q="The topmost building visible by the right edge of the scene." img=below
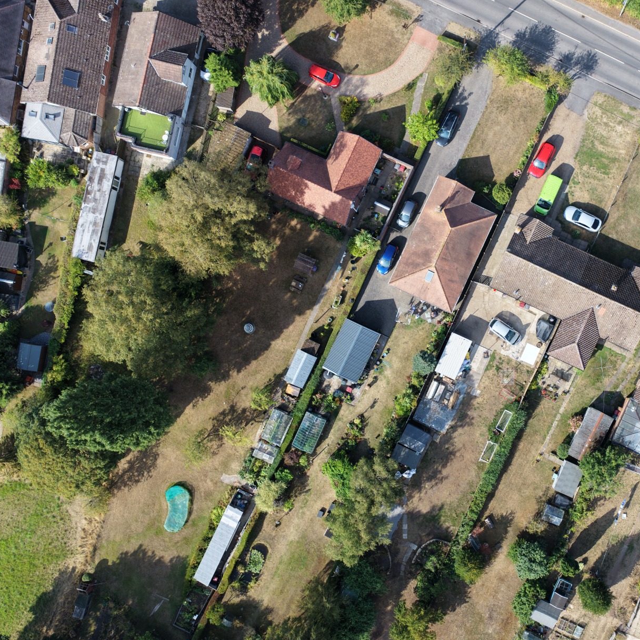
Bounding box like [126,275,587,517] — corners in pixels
[489,214,640,371]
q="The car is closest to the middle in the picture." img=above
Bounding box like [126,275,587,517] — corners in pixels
[376,241,400,276]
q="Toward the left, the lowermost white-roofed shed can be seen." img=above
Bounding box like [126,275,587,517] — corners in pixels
[194,502,246,586]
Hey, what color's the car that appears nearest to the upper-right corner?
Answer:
red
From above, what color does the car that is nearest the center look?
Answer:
blue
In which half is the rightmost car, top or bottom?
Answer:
top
